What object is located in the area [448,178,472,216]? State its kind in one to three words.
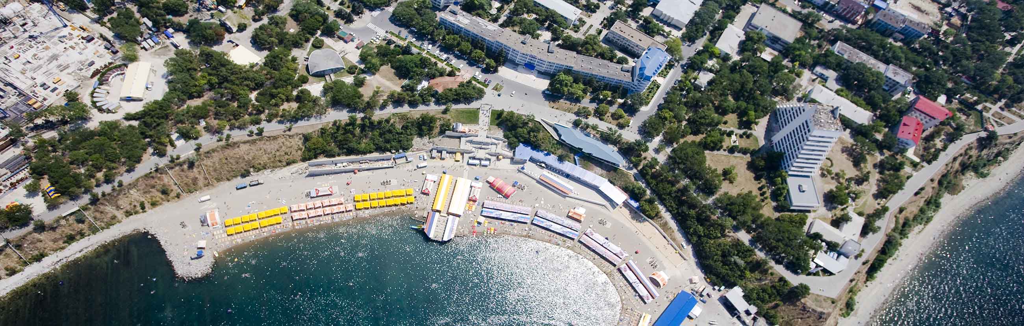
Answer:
building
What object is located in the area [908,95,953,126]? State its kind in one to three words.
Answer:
house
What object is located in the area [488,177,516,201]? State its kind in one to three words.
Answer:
tent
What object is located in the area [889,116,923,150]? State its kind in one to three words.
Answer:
house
